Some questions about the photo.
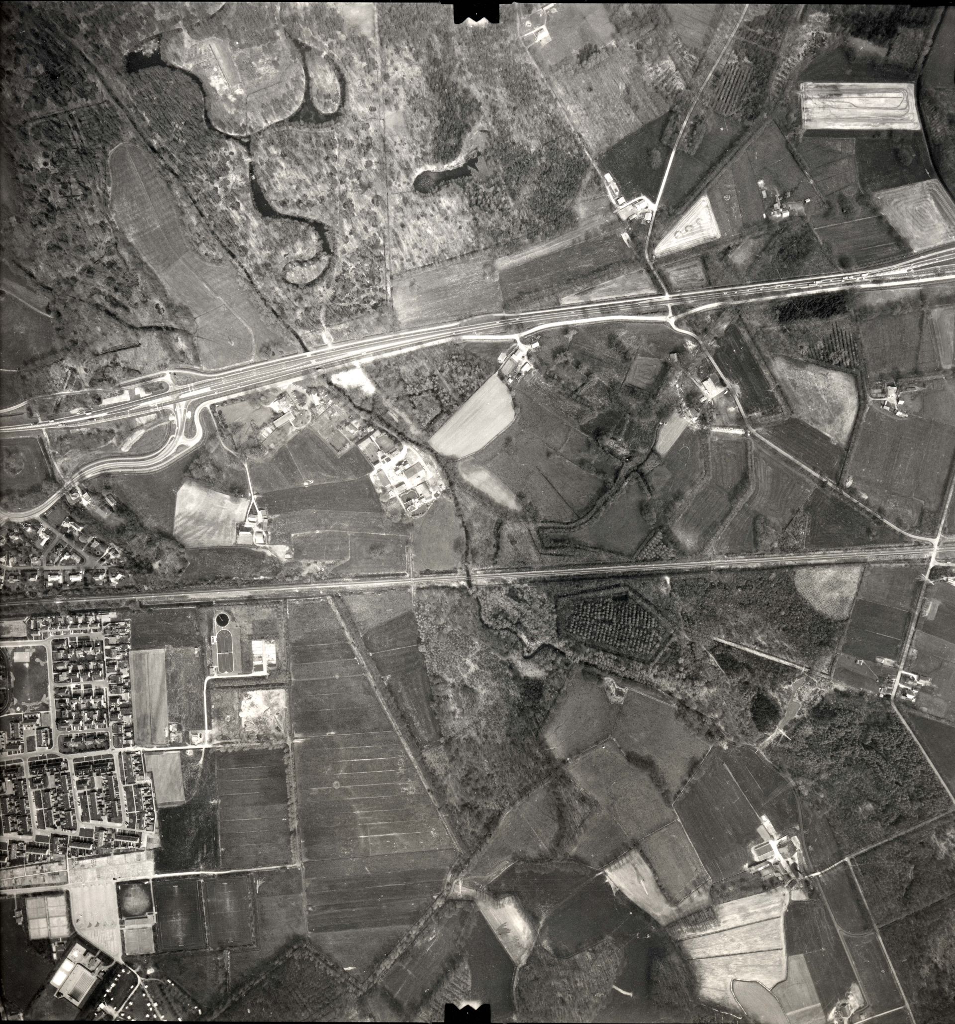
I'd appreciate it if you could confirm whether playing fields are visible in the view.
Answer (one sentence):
Yes, there's a playing field down there.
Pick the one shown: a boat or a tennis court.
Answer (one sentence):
Visible in the photo is a tennis court.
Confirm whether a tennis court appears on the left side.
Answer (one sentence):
Yes, there is a tennis court on the left side.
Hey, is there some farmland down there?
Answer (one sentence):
Yes, some farmland is visible.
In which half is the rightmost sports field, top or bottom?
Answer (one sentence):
The rightmost sports field is in the bottom half of the image.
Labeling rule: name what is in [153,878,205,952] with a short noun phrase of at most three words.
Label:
sports field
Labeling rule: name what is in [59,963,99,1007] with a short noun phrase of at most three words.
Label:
building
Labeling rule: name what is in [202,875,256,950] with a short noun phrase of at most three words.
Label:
sports field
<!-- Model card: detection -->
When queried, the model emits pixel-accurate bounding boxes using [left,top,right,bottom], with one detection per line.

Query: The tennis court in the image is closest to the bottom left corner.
[25,895,67,939]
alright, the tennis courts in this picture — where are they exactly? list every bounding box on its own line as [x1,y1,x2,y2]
[125,914,153,955]
[25,895,67,939]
